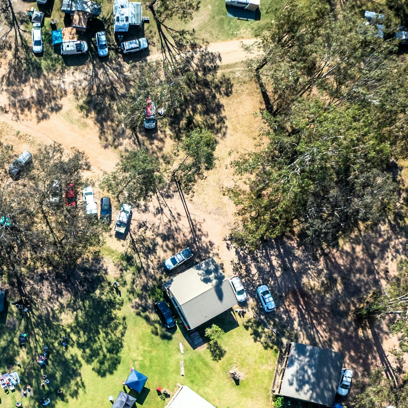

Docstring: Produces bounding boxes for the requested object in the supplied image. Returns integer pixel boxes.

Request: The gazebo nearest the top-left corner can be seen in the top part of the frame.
[26,10,45,31]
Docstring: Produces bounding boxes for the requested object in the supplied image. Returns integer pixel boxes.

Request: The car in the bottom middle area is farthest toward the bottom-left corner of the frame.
[156,300,175,328]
